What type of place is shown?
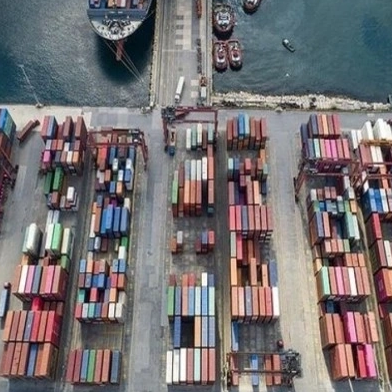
port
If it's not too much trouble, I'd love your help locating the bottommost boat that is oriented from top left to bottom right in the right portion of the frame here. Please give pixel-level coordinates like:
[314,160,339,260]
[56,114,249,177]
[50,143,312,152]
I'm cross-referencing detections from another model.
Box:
[280,39,295,53]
